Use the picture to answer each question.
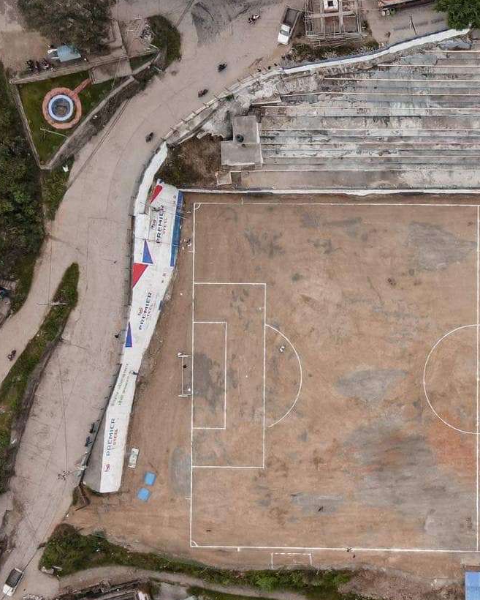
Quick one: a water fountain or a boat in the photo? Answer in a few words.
water fountain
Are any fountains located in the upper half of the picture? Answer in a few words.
Yes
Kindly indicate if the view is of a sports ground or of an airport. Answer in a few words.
sports ground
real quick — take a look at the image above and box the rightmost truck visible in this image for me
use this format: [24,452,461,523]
[274,1,302,45]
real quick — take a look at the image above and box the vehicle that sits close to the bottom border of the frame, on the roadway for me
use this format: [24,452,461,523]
[0,567,22,598]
